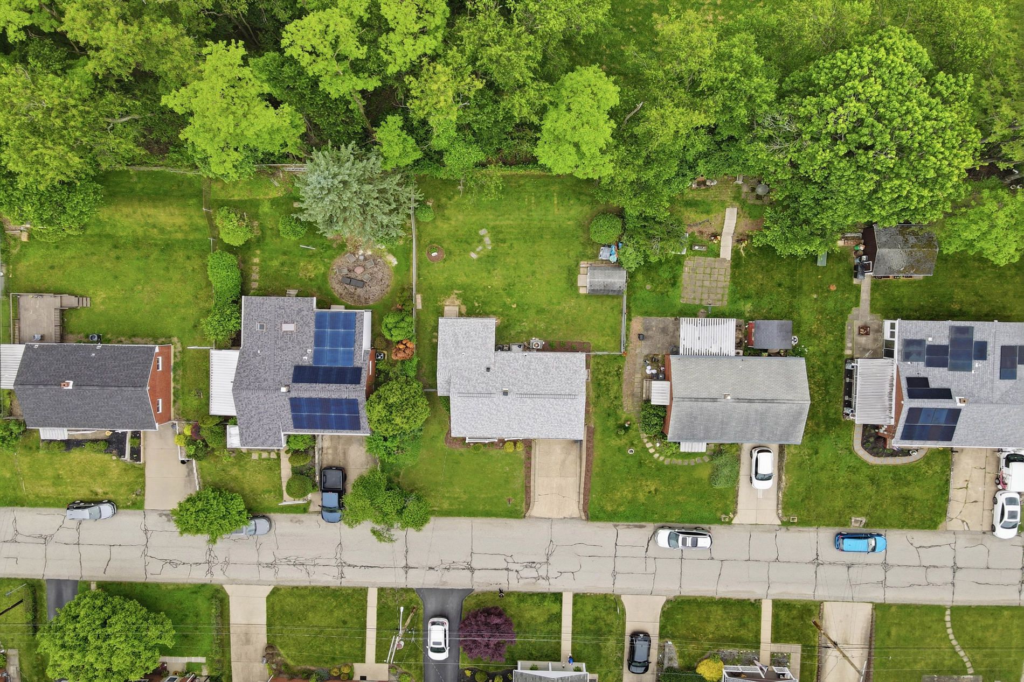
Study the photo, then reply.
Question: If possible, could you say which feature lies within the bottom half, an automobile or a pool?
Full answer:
The feature located within the bottom half is an automobile.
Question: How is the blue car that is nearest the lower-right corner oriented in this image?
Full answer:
I'd say the blue car that is nearest the lower-right corner is aligned from side to side in the picture.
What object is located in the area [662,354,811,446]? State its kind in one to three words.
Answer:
house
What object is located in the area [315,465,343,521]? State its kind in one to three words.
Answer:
truck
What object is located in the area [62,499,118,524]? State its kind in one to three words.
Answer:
car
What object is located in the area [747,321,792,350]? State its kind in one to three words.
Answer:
shed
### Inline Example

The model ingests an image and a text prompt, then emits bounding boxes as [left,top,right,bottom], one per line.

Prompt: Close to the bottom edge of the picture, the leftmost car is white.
[425,616,450,661]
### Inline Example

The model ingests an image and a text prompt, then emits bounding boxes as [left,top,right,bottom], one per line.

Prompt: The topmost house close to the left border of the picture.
[12,343,176,434]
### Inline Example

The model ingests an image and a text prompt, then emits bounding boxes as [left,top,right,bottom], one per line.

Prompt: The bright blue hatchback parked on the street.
[834,531,886,557]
